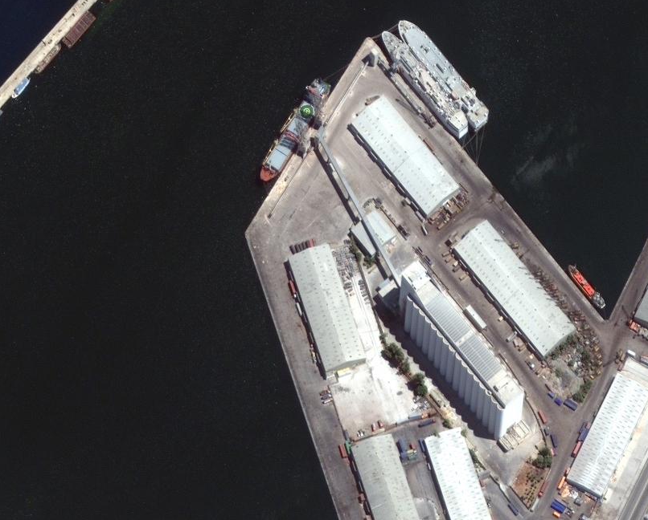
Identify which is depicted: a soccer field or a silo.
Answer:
silo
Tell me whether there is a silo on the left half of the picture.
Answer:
No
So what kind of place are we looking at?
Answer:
port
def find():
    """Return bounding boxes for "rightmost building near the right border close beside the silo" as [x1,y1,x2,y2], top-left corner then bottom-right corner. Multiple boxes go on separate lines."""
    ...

[568,372,648,499]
